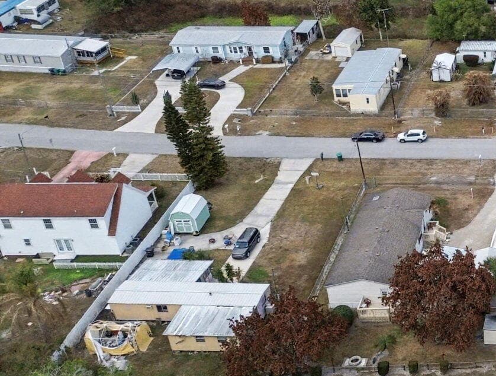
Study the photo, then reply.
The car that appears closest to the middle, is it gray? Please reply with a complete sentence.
Yes, gray is the color of the car that appears closest to the middle.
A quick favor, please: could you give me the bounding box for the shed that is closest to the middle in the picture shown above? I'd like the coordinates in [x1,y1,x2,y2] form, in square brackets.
[166,189,214,235]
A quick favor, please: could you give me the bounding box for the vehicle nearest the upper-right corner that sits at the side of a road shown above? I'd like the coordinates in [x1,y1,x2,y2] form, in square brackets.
[395,129,427,145]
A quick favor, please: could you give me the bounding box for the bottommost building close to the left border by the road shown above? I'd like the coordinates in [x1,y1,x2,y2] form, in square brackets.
[0,159,165,262]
